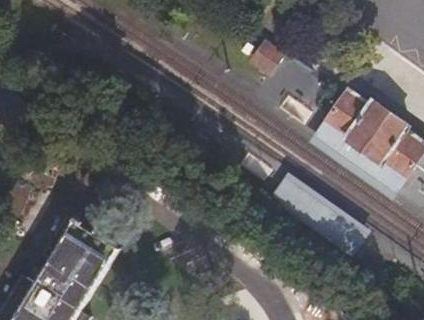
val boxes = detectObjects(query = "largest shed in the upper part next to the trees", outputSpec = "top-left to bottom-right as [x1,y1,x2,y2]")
[249,40,285,77]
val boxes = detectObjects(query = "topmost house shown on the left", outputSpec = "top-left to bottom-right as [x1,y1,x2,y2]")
[11,176,56,218]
